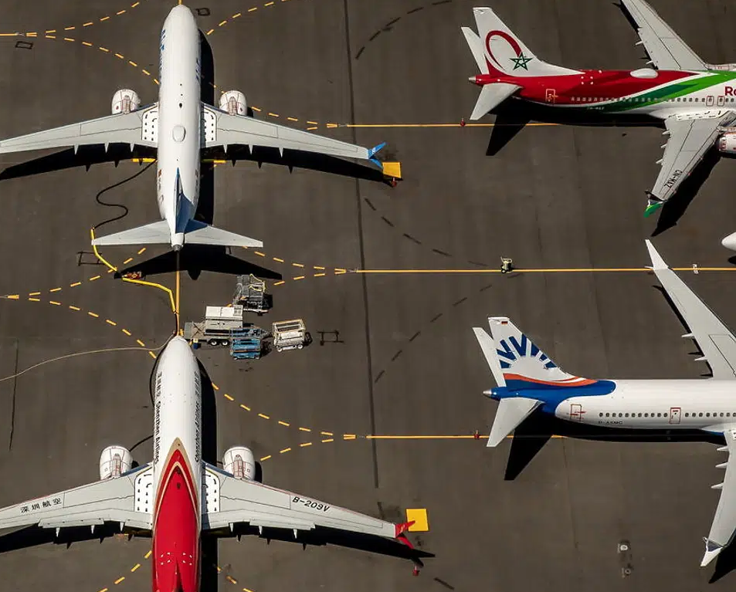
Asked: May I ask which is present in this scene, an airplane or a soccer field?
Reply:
airplane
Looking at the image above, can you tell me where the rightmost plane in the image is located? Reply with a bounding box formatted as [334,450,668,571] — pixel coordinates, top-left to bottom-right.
[715,230,736,256]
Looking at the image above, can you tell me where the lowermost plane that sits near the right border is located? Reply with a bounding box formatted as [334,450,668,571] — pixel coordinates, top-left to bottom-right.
[474,243,736,566]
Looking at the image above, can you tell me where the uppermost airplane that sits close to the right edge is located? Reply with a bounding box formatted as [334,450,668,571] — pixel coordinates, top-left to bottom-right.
[461,0,736,219]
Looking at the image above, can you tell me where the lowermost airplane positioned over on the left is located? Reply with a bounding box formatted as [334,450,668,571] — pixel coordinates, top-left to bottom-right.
[0,336,417,592]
